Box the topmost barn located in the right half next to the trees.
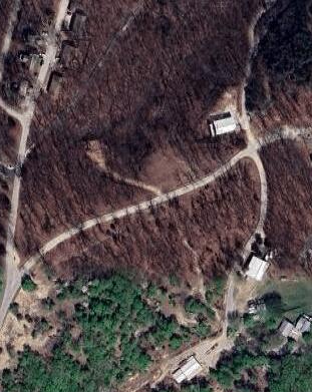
[210,116,238,136]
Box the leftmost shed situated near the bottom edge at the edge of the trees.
[172,357,201,383]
